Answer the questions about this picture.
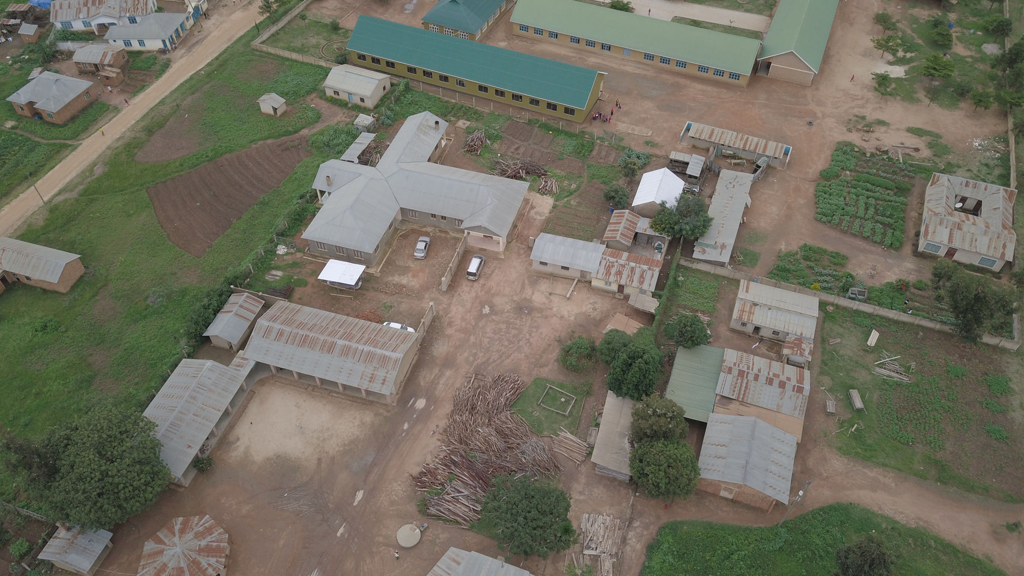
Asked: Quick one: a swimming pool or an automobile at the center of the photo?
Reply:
automobile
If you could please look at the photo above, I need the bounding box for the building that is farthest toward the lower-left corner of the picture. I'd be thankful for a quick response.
[42,521,123,576]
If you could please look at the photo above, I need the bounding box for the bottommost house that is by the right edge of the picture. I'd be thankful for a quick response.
[919,170,1012,272]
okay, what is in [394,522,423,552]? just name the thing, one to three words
storage tank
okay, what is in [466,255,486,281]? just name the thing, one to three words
car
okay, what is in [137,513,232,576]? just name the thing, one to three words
gazebo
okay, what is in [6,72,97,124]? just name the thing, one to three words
house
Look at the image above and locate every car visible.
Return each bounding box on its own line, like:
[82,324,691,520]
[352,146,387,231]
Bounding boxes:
[413,236,431,260]
[466,255,486,281]
[384,321,417,333]
[327,281,362,293]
